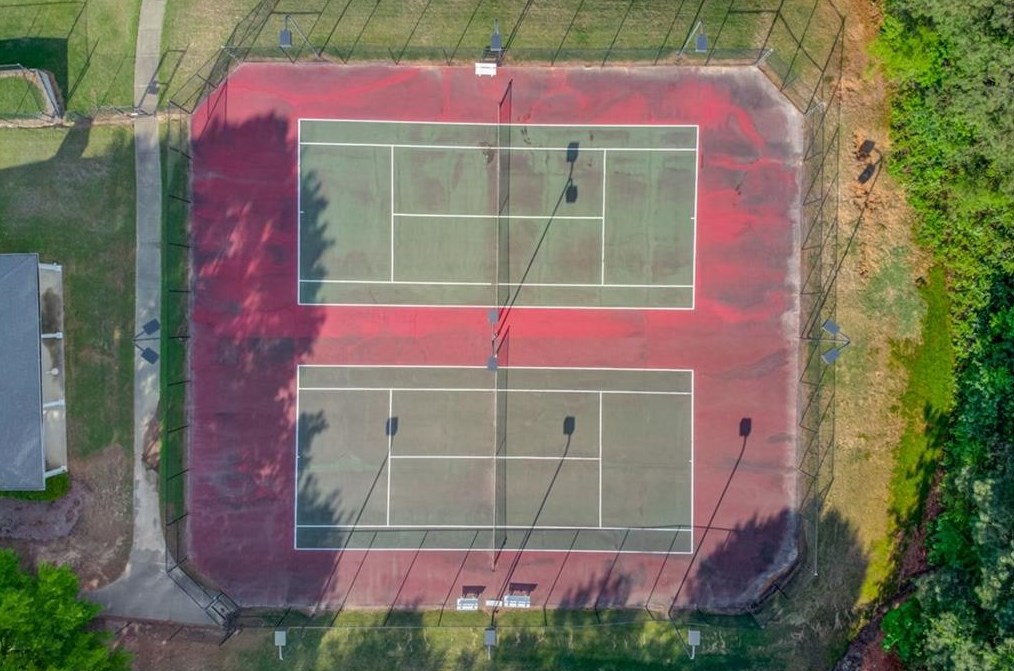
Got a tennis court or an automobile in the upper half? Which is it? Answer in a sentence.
It is a tennis court that can be seen in the upper half.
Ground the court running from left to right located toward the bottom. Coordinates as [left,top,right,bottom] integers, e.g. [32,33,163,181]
[294,365,694,554]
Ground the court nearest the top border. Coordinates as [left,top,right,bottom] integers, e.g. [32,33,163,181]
[298,119,699,310]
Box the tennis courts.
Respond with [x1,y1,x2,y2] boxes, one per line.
[294,365,694,554]
[298,119,699,310]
